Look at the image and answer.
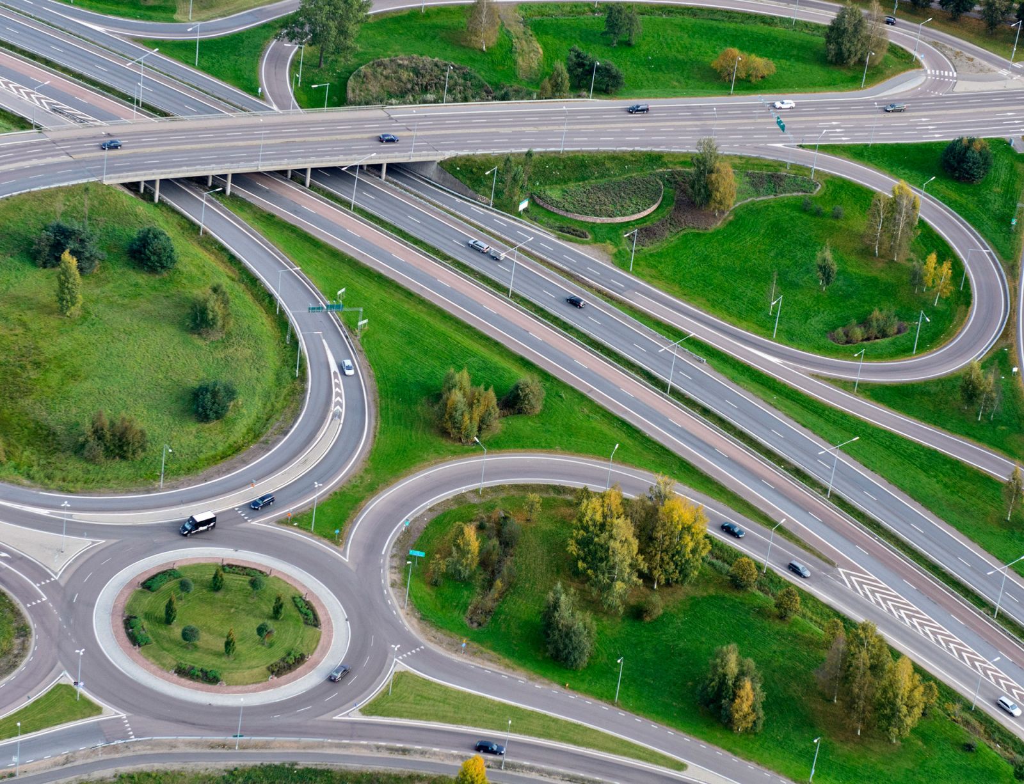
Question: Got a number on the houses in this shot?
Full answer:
There are no houses in this view.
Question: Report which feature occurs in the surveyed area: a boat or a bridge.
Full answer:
The one in the frame is a bridge.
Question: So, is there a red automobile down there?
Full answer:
No, the picture doesn't show any red automobile.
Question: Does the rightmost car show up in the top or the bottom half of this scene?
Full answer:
It is in the bottom half that the rightmost car appears.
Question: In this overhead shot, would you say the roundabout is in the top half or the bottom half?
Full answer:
It is in the bottom half that the roundabout appears.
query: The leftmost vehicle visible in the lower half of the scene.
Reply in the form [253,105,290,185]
[182,511,215,536]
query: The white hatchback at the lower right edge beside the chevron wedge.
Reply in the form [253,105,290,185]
[995,696,1023,716]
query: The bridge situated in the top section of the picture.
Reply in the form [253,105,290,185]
[41,103,493,213]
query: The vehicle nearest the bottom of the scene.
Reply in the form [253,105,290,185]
[475,739,504,756]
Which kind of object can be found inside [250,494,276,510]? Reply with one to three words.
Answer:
car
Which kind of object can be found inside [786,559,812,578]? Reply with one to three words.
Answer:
car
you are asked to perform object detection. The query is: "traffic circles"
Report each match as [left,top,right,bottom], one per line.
[0,507,769,784]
